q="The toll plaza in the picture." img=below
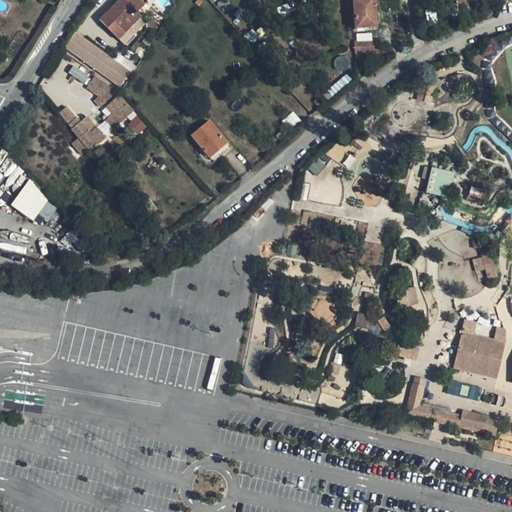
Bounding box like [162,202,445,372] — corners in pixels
[4,350,44,414]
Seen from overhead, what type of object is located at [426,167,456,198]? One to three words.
building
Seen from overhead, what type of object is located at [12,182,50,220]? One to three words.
shed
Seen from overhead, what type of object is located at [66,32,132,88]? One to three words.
barn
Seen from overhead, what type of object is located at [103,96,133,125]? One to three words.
house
